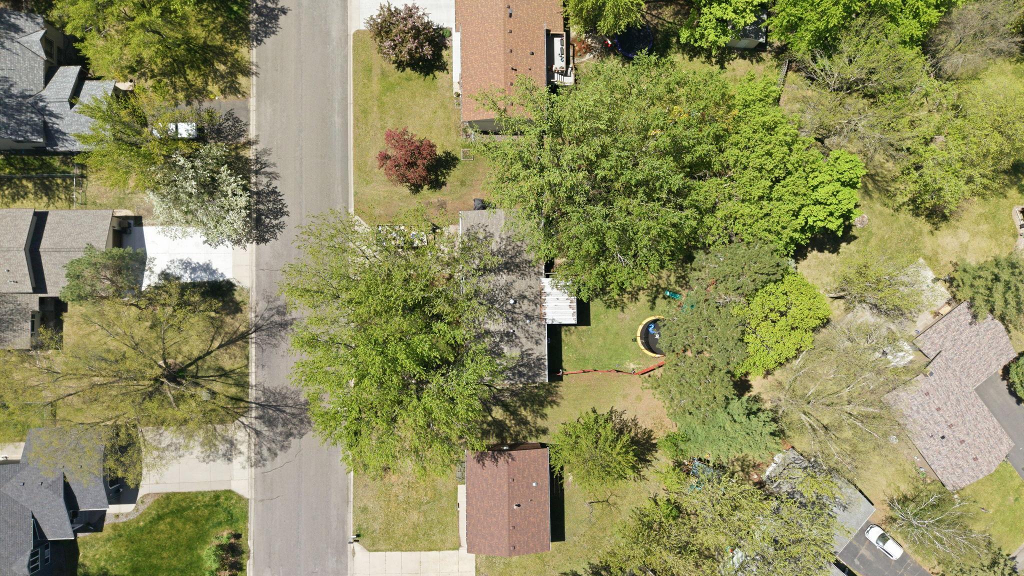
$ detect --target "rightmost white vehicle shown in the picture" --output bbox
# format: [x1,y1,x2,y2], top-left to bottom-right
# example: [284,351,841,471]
[865,522,910,565]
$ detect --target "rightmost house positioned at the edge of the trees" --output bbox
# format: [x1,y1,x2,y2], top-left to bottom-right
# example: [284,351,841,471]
[879,298,1015,492]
